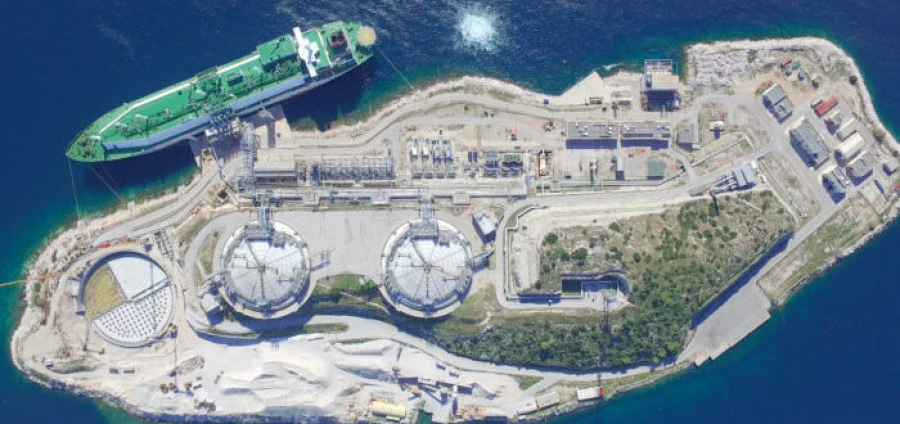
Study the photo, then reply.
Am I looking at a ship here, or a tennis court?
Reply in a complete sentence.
The image shows a ship.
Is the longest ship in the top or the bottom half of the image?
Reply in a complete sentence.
The longest ship is in the top half of the image.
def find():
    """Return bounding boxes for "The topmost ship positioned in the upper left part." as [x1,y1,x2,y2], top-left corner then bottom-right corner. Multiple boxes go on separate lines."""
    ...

[65,19,376,163]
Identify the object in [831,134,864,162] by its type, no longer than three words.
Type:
shed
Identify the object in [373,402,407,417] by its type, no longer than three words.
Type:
shed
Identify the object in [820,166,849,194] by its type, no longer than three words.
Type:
building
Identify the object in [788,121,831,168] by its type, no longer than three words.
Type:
building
